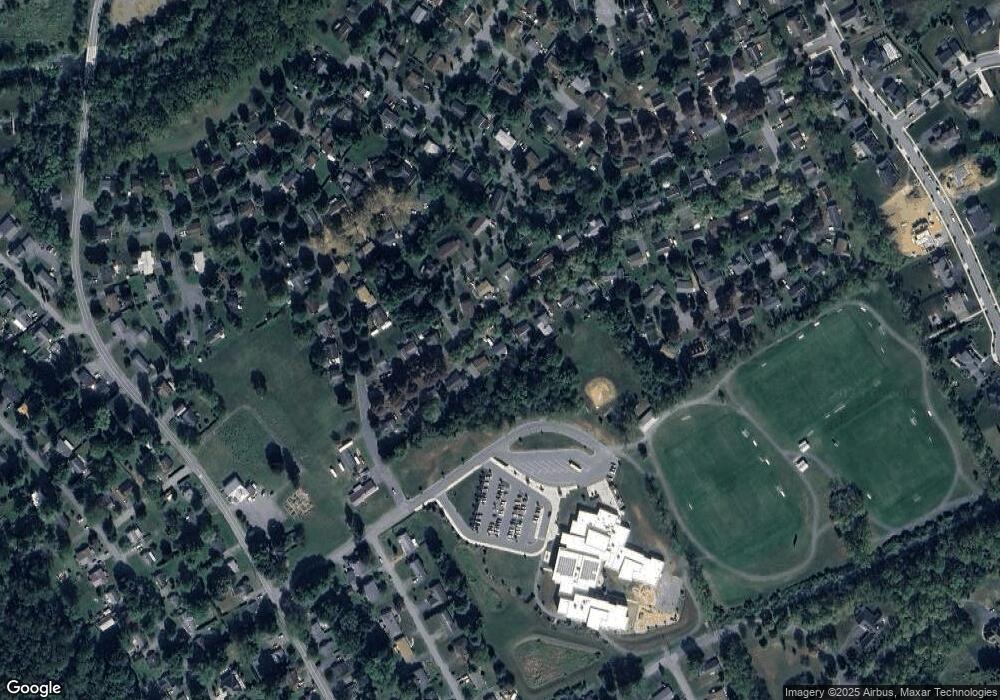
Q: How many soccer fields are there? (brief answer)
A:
3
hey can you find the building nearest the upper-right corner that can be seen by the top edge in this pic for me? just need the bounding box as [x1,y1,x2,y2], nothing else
[965,8,994,34]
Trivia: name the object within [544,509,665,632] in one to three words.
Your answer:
building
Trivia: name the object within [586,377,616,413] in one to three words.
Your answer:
baseball field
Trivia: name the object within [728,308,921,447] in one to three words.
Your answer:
soccer field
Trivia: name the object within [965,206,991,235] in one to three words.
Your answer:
house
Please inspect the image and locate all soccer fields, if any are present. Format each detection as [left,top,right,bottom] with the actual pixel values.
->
[728,308,921,447]
[652,401,812,571]
[806,387,952,520]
